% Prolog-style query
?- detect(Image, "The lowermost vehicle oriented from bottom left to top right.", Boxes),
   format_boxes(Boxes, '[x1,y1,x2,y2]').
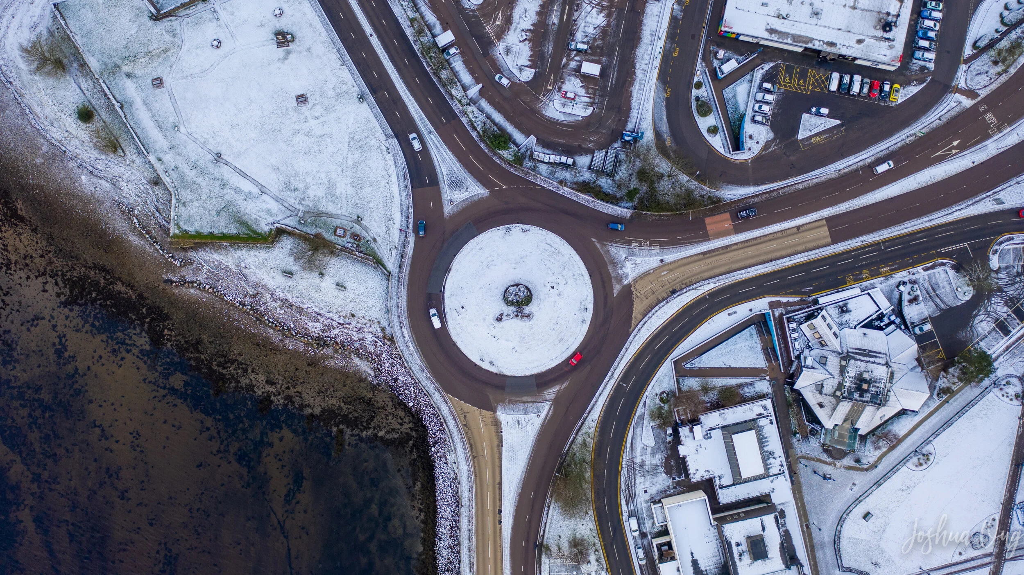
[570,351,583,366]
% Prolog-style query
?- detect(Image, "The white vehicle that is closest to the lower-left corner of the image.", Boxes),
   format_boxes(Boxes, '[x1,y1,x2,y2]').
[429,307,442,329]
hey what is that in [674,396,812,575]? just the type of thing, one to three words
building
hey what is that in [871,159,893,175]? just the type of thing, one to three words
vehicle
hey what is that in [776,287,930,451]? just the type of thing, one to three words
building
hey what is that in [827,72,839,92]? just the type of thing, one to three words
vehicle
